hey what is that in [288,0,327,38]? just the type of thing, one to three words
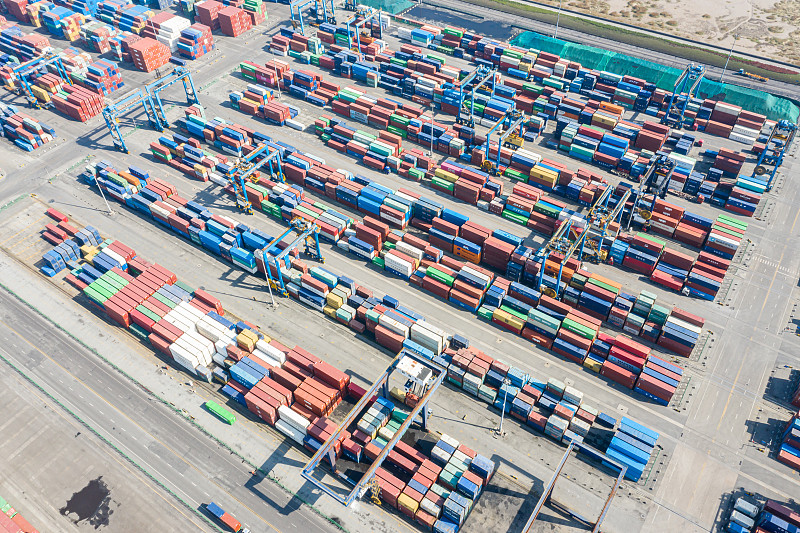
container crane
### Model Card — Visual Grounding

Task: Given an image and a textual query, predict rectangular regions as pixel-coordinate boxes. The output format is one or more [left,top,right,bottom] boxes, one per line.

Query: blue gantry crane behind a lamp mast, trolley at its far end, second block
[259,216,328,301]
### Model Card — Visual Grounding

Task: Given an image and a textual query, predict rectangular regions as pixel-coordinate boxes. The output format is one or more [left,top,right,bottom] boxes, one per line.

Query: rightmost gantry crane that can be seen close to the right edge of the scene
[752,119,799,191]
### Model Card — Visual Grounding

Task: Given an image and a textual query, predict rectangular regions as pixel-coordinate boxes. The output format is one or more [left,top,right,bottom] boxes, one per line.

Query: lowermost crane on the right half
[519,442,628,533]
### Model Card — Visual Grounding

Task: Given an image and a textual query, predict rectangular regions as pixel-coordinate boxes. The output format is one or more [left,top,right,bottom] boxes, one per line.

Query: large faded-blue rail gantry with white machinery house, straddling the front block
[298,350,446,510]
